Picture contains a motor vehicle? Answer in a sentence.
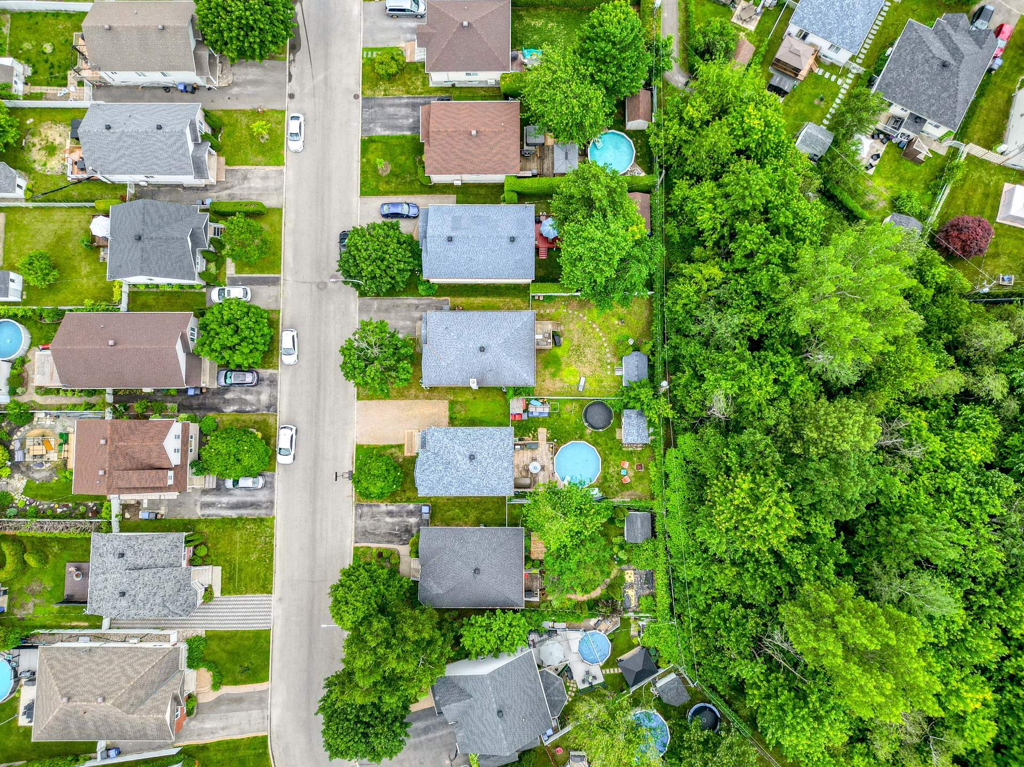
Yes, there's a motor vehicle down there.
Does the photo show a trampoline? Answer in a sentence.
Yes, I can see a trampoline in this picture.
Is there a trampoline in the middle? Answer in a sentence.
Yes, in the middle there is a trampoline.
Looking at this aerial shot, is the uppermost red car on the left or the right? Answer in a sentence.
The uppermost red car is on the right side of the image.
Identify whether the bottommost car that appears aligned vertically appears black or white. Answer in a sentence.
The bottommost car that appears aligned vertically looks white in the image.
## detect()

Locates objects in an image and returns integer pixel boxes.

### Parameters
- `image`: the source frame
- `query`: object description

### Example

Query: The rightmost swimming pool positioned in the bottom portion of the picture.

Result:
[627,706,670,752]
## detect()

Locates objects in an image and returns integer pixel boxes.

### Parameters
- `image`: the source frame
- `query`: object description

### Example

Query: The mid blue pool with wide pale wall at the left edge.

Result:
[0,322,32,358]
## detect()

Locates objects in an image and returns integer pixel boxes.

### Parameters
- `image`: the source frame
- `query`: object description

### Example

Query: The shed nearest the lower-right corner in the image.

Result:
[655,670,691,708]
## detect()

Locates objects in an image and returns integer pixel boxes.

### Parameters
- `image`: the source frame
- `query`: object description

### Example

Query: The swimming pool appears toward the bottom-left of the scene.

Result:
[0,659,20,697]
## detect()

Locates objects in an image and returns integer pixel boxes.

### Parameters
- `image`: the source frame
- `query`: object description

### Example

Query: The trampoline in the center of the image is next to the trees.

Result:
[582,400,613,431]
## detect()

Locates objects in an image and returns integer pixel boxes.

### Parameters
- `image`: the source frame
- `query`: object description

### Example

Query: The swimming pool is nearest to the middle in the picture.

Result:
[555,439,601,486]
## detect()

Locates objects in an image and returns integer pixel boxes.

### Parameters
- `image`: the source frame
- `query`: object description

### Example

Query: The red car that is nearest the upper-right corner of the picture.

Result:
[991,22,1018,61]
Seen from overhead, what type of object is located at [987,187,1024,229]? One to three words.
gazebo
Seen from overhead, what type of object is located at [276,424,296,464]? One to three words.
car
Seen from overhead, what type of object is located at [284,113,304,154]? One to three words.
car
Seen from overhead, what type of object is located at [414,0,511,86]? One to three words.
house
